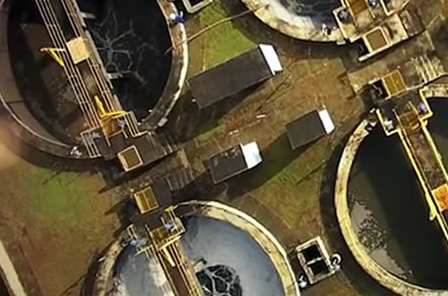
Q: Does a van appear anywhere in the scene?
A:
No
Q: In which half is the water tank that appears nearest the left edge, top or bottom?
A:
top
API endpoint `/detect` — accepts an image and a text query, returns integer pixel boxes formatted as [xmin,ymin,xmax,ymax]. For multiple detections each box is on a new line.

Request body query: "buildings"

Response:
[188,47,282,108]
[209,142,259,185]
[285,109,331,150]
